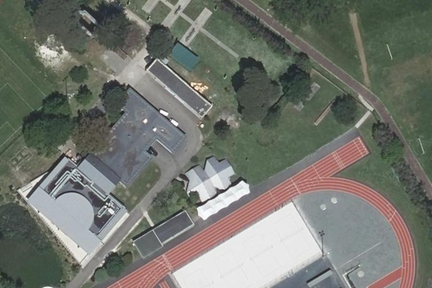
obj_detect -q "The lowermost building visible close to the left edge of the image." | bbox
[16,154,130,265]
